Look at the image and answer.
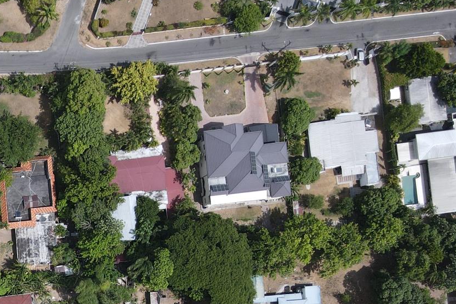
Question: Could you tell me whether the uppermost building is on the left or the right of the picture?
right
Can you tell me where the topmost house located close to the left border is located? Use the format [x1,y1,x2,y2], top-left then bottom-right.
[0,156,57,265]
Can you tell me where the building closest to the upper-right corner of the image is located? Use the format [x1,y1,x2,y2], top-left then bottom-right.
[385,77,448,127]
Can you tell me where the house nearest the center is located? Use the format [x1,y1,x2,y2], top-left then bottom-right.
[196,123,291,210]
